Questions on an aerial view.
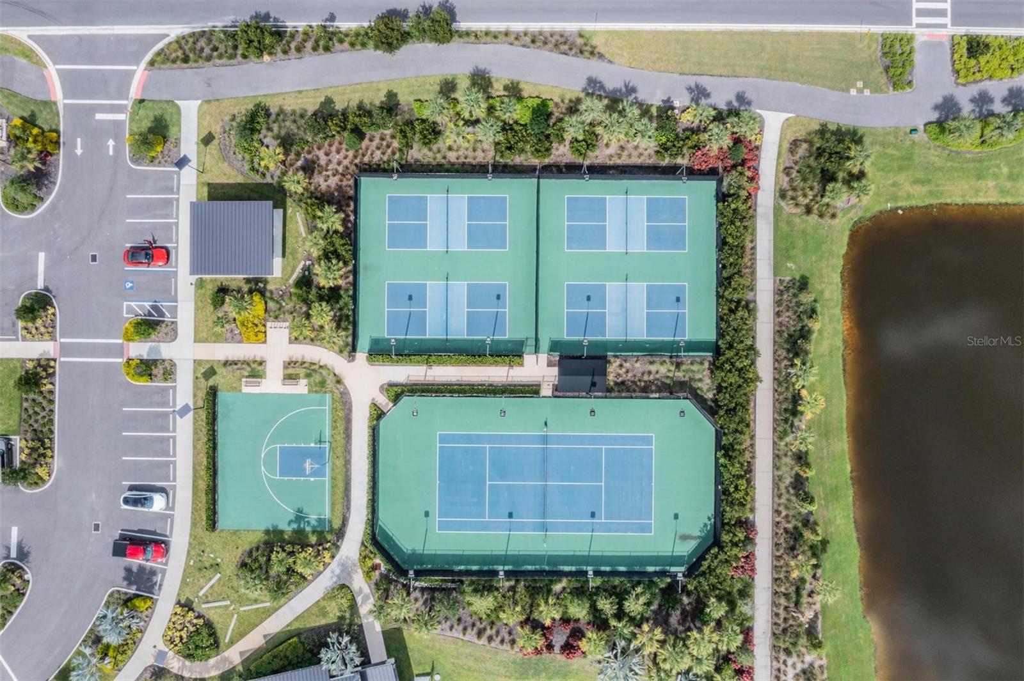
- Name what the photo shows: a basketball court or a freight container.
basketball court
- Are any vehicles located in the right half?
No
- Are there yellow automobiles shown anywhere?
No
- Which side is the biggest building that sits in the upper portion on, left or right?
left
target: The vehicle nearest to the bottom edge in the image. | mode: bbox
[108,541,167,567]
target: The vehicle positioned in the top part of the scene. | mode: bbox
[122,240,169,268]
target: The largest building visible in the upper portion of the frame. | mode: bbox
[190,201,283,277]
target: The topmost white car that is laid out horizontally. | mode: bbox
[120,494,167,516]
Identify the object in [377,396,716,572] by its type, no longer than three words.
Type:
tennis court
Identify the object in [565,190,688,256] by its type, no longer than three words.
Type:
sports court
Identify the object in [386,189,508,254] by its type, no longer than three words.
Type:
sports court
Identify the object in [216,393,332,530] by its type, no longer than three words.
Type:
basketball court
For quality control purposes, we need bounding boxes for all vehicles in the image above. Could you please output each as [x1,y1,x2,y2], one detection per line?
[108,541,167,567]
[120,494,167,516]
[0,442,12,488]
[122,240,169,268]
